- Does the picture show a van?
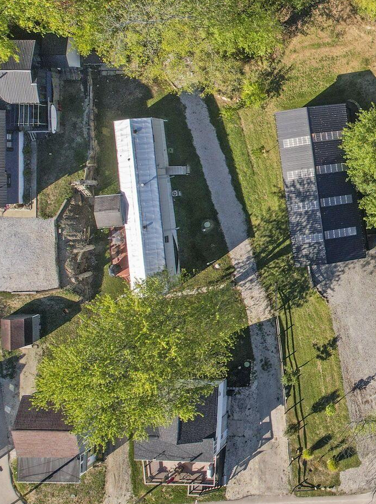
No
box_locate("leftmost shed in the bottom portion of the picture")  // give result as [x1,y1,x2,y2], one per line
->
[3,312,50,350]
